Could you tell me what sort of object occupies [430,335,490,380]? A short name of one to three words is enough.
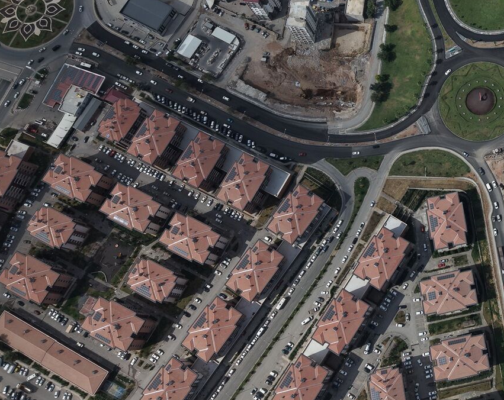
building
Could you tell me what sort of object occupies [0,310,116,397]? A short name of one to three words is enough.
building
